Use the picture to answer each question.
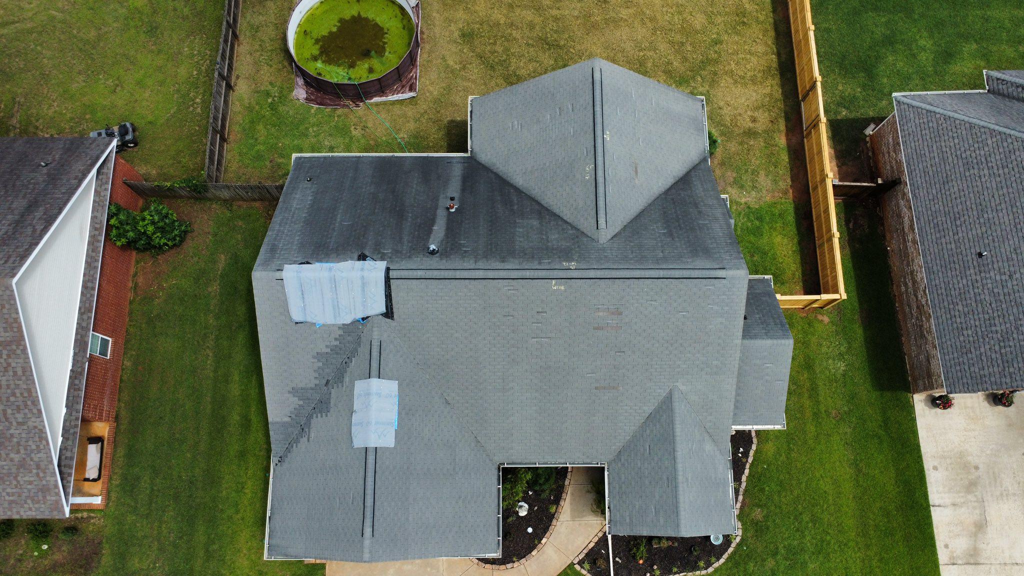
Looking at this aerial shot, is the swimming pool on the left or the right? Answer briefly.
left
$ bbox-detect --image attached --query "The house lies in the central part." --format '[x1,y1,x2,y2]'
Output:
[252,56,795,564]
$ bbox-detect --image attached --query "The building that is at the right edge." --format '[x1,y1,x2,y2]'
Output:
[872,68,1024,394]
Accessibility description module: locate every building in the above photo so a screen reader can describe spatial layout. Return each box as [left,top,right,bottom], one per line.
[872,68,1024,394]
[0,139,145,517]
[252,56,795,564]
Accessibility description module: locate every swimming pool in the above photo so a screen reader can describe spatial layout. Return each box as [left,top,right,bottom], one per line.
[288,0,424,97]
